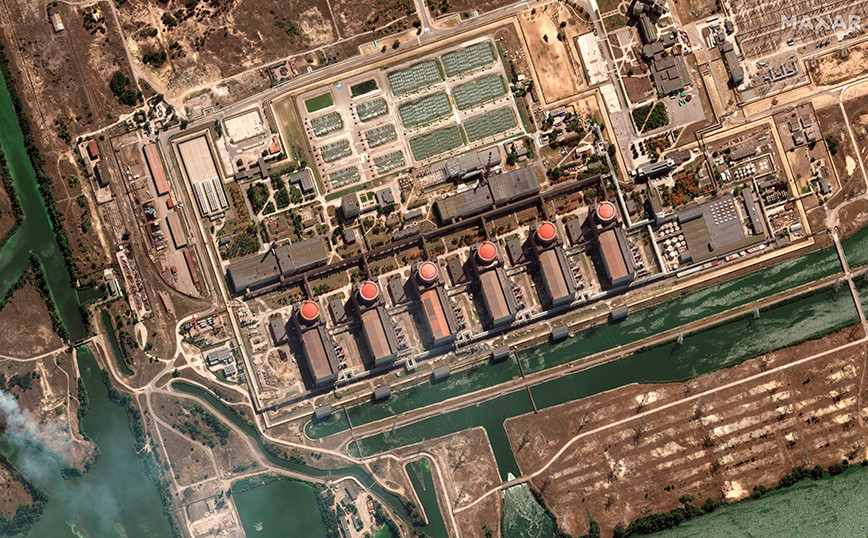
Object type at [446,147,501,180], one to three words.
house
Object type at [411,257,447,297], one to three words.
building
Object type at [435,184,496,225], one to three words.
building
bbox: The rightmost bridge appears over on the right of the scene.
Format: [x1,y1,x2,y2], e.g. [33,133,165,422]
[833,231,868,337]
